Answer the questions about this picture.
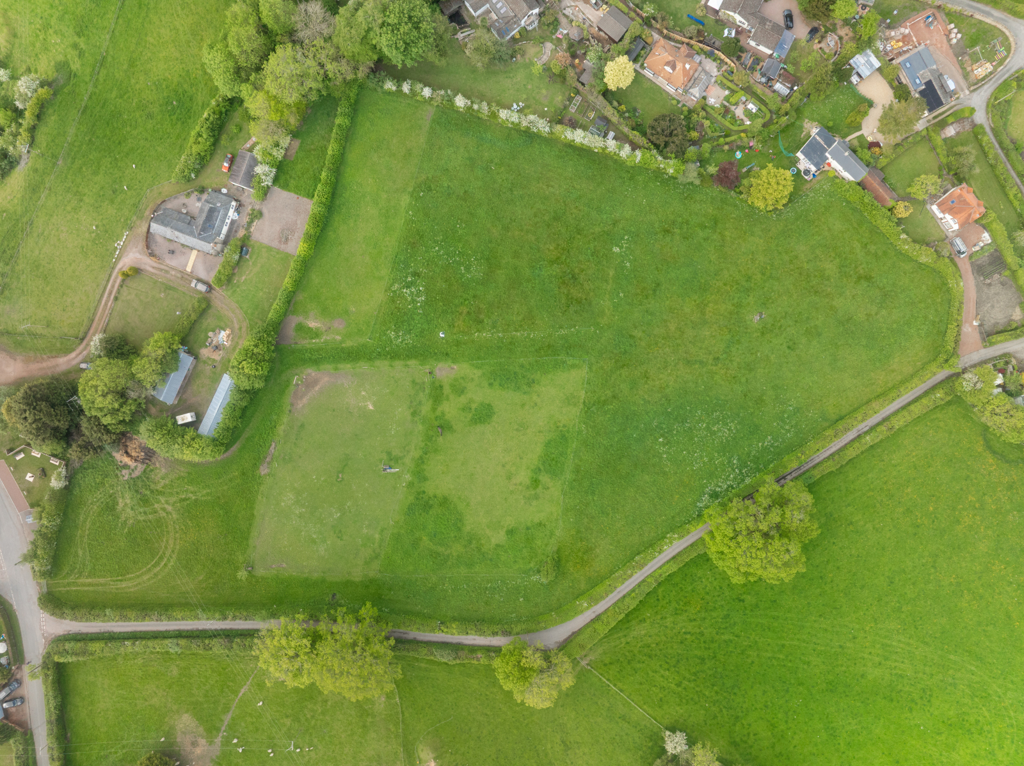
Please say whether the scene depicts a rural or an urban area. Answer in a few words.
rural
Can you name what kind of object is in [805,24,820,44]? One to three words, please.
car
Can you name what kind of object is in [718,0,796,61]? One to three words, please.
house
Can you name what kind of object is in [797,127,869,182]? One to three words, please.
house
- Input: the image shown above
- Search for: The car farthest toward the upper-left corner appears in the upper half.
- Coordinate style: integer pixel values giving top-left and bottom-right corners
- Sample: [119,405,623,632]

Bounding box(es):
[222,154,234,172]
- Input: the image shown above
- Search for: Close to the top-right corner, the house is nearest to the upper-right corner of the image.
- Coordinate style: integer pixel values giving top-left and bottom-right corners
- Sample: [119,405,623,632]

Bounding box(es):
[898,47,955,115]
